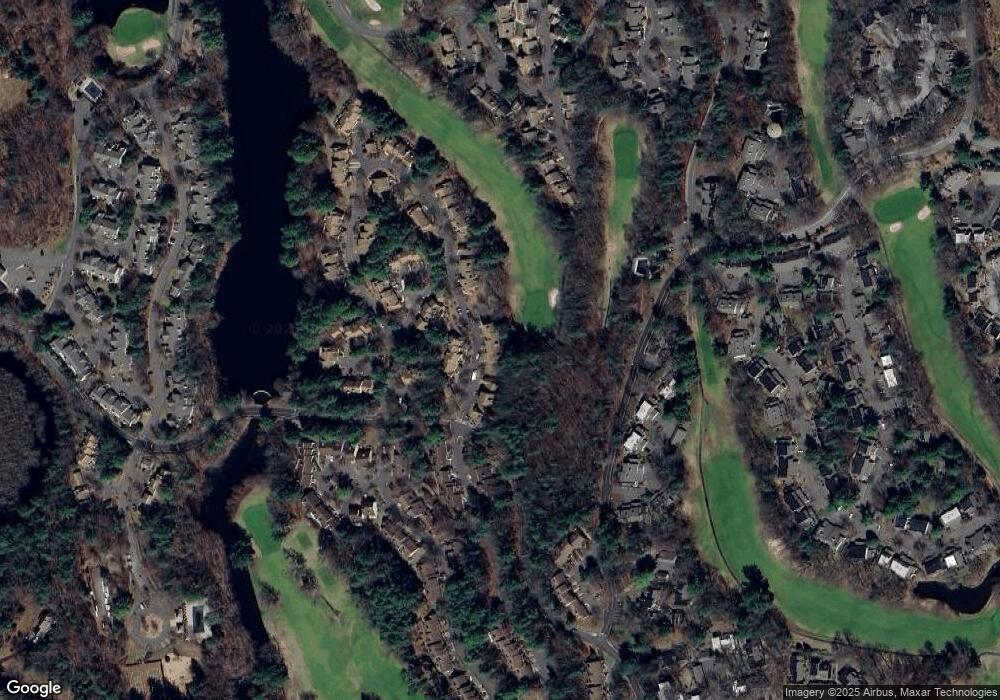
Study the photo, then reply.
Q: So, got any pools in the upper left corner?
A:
Yes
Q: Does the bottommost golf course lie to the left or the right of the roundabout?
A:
on its right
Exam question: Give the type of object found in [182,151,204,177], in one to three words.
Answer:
house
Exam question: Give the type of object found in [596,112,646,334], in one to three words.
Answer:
golf course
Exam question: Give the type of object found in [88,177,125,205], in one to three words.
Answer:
house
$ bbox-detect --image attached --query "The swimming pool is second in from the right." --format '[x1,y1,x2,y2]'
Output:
[186,599,212,644]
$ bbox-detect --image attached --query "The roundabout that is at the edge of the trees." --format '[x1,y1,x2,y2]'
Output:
[129,602,173,645]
